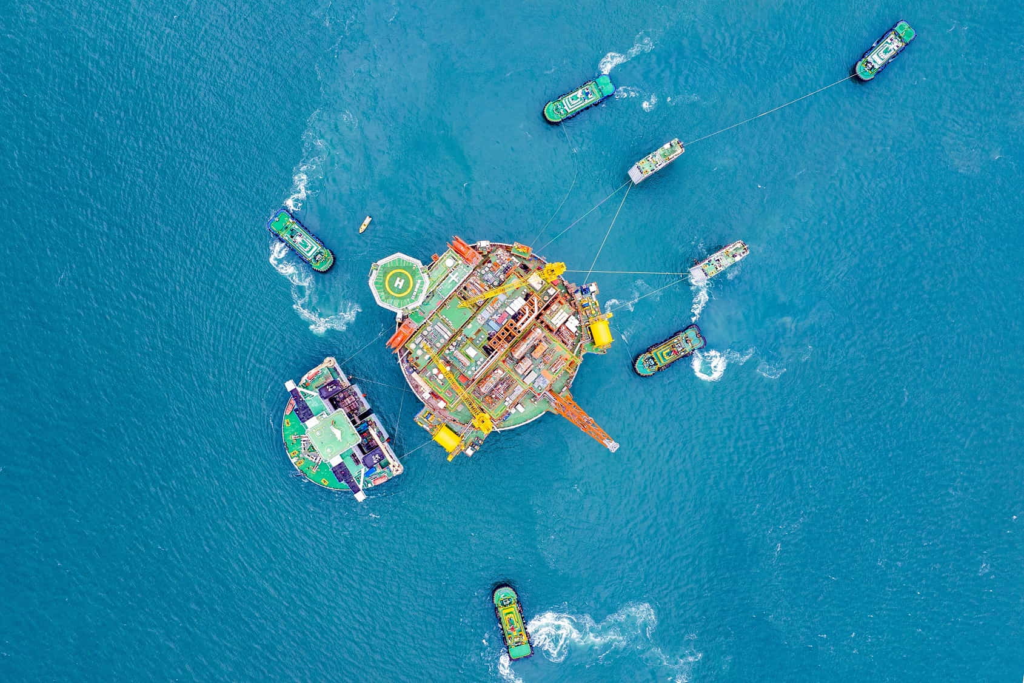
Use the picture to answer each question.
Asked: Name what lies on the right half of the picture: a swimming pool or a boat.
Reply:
boat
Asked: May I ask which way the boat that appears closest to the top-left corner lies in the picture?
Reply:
at an angle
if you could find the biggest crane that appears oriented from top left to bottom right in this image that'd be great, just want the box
[422,341,498,442]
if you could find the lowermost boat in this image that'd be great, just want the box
[493,583,535,660]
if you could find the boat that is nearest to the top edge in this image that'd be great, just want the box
[853,19,918,84]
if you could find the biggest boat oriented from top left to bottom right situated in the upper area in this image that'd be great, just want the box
[268,210,335,271]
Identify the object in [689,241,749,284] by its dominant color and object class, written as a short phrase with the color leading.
white boat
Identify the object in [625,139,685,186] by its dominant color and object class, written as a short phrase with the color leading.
white boat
